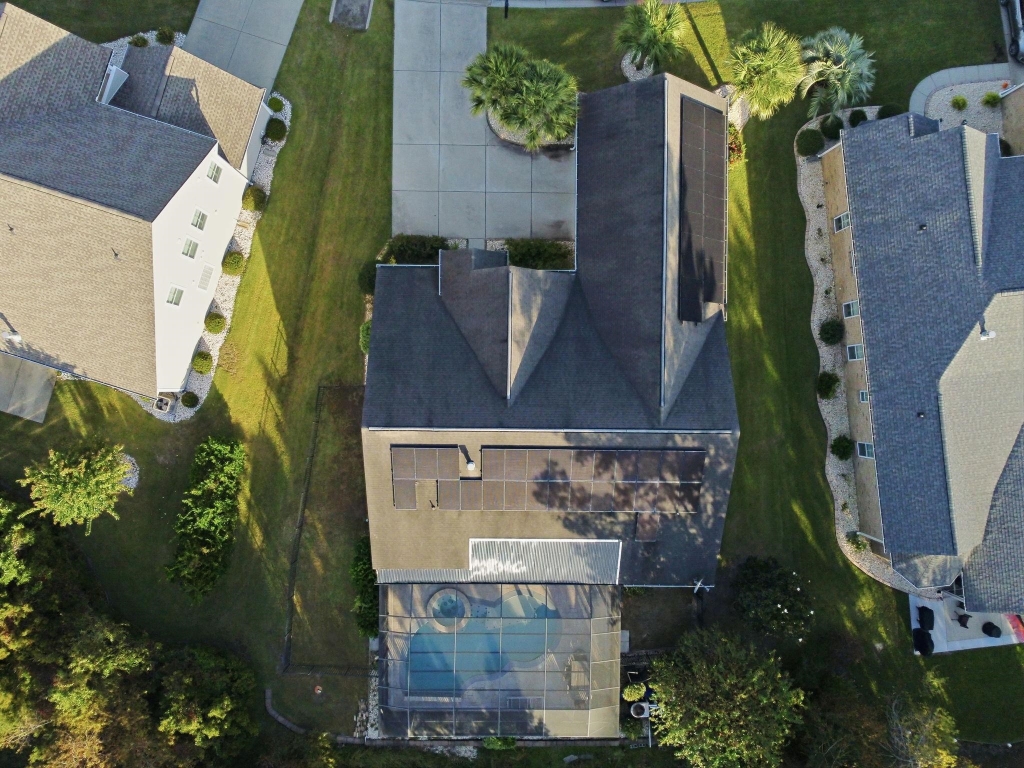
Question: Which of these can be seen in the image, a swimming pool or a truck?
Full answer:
Visible in the photo is a swimming pool.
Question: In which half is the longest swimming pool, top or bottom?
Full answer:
Seen from above, the longest swimming pool lies in the bottom half of the view.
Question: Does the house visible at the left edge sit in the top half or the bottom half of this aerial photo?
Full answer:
Seen from above, the house visible at the left edge lies in the top half of the view.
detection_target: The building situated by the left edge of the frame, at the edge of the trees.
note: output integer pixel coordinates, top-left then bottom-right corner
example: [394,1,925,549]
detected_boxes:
[0,0,284,404]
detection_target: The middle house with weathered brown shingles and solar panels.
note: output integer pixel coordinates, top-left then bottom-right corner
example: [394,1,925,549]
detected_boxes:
[362,73,738,587]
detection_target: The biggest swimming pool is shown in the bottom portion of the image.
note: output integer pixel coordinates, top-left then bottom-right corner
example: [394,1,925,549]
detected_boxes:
[401,586,567,705]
